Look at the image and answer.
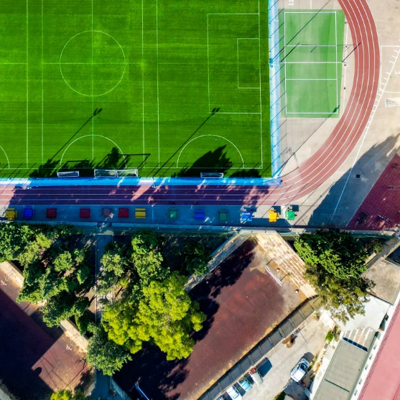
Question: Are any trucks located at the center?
No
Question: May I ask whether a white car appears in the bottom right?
Yes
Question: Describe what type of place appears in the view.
sports ground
